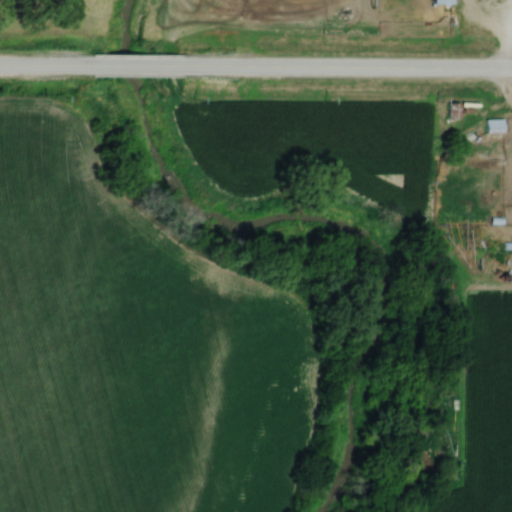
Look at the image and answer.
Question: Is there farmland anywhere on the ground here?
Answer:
Yes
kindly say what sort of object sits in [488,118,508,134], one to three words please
shed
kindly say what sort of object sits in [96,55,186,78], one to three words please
bridge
